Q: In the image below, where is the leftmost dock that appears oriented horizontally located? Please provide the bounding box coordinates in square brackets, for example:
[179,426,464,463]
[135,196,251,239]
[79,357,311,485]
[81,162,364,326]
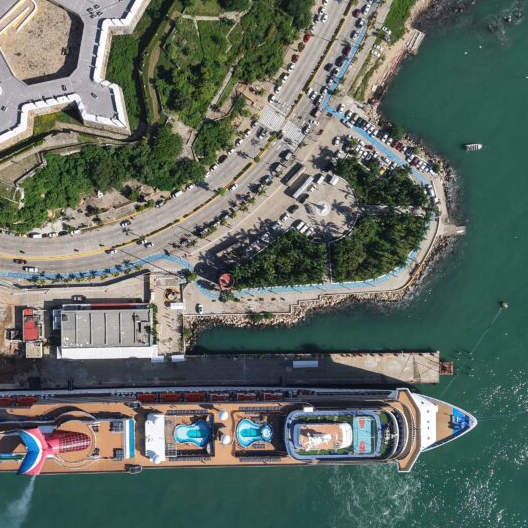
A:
[0,350,439,390]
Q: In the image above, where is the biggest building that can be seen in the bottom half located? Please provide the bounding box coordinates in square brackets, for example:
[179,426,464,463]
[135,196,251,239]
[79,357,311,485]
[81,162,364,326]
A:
[53,303,159,359]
